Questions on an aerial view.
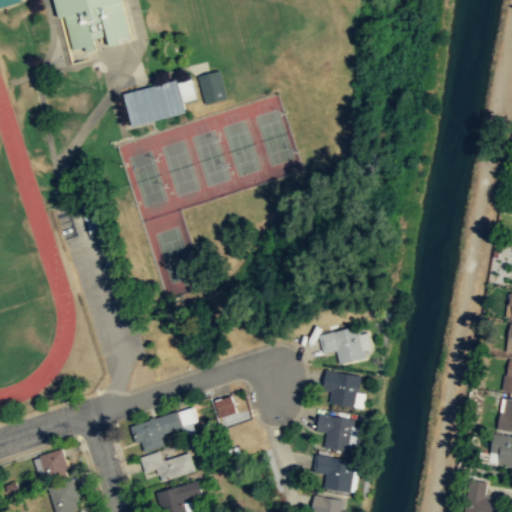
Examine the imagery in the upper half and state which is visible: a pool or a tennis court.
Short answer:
tennis court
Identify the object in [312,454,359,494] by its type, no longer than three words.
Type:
house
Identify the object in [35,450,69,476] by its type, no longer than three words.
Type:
house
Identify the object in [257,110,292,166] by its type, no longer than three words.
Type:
tennis court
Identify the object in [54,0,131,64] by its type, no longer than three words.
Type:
building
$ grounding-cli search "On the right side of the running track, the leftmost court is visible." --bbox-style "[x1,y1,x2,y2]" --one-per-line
[131,151,168,208]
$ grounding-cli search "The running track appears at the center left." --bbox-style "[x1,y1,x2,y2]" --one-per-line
[0,75,76,404]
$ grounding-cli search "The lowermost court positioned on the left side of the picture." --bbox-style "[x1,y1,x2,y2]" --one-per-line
[158,228,192,284]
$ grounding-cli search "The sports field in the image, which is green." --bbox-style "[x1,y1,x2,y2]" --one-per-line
[0,131,58,386]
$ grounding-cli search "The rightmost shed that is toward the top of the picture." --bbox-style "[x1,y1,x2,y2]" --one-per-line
[198,70,226,103]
